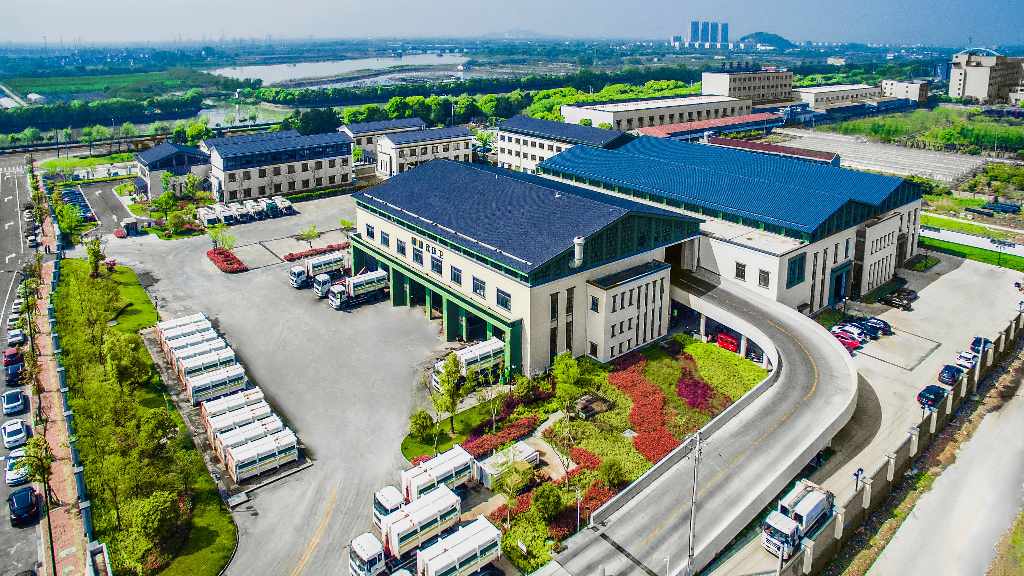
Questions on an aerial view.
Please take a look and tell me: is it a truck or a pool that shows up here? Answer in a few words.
truck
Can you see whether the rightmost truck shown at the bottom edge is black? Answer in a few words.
No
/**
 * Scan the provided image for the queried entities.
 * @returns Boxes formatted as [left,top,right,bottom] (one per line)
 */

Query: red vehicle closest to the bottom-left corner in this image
[1,343,22,364]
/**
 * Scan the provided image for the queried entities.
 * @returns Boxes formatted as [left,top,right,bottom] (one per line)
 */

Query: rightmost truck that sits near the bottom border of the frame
[749,477,830,566]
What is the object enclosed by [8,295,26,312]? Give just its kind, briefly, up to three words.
car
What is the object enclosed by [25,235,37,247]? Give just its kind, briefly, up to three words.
vehicle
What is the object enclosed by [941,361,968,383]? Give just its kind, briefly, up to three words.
car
